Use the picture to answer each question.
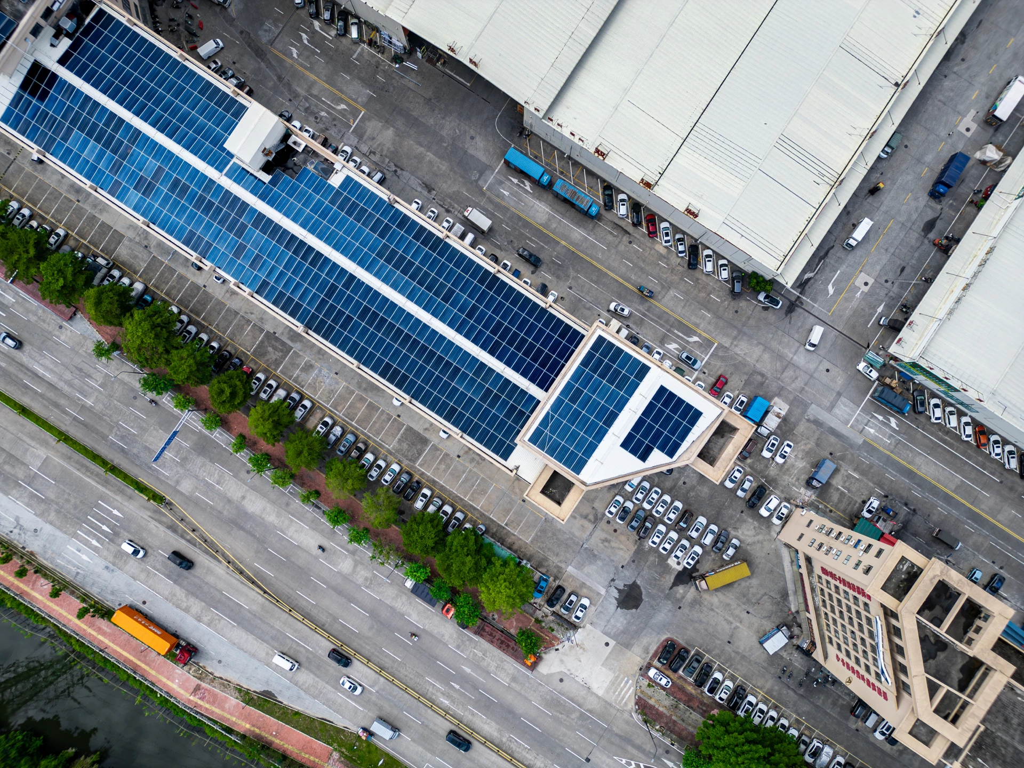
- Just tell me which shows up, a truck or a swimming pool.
truck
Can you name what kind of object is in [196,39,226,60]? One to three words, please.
vehicle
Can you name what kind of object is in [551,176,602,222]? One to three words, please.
truck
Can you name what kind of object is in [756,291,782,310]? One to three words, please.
car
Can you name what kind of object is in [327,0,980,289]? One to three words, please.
warehouse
